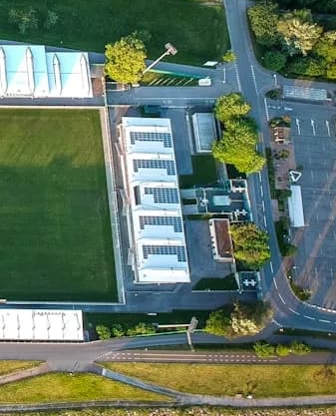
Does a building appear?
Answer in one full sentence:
Yes, there's a building here.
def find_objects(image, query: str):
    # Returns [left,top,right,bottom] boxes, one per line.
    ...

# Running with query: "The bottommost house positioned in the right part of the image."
[203,220,232,262]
